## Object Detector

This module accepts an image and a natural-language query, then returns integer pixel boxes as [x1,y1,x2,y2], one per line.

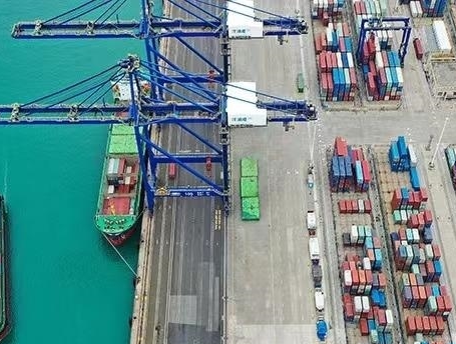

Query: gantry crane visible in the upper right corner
[355,17,413,67]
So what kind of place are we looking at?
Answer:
port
